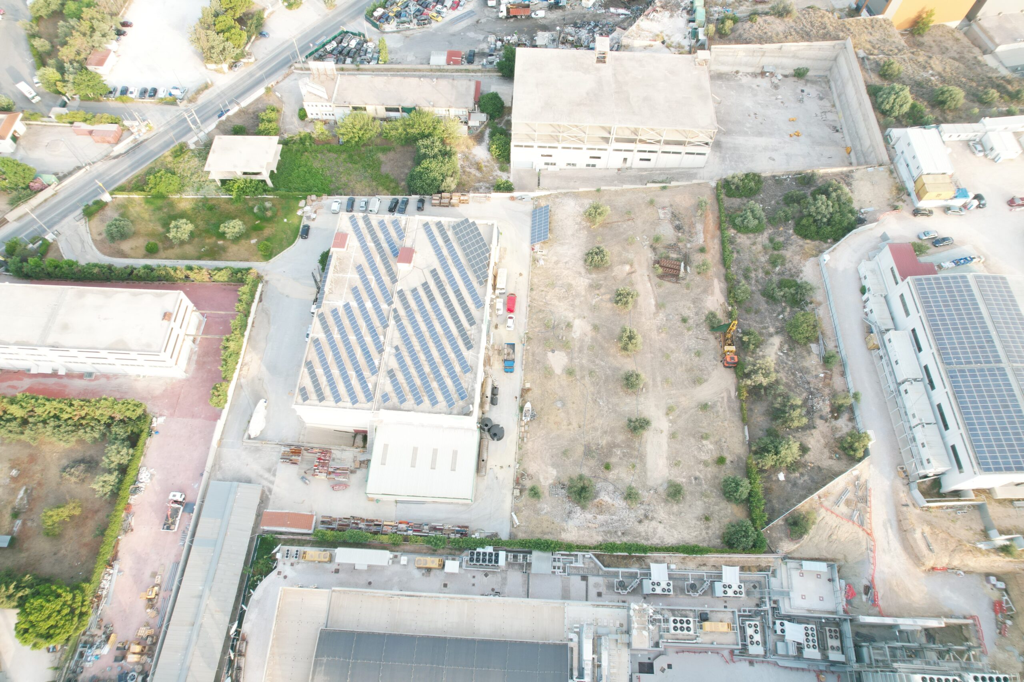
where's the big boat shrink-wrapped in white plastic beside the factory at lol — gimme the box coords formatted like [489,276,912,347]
[246,392,267,442]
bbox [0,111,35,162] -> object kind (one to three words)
house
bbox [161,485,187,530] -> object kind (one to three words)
truck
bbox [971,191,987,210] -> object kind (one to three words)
car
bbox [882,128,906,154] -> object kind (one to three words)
building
